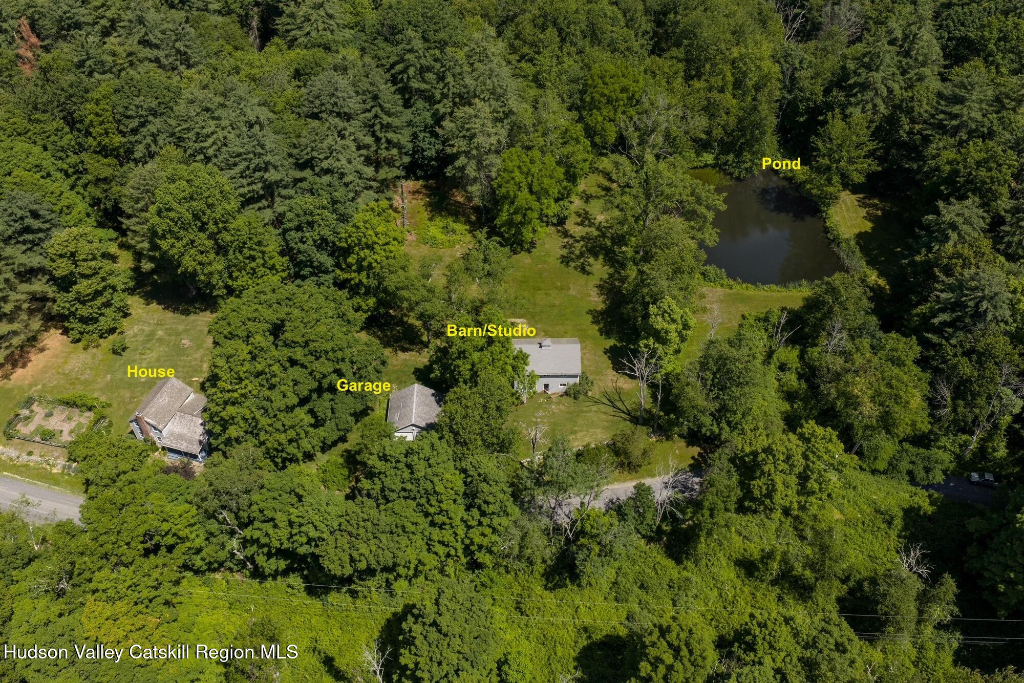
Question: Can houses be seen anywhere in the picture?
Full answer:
Yes, a house appears in the view.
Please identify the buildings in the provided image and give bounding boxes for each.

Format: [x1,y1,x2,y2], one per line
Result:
[128,377,226,463]
[385,383,443,443]
[513,339,581,393]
